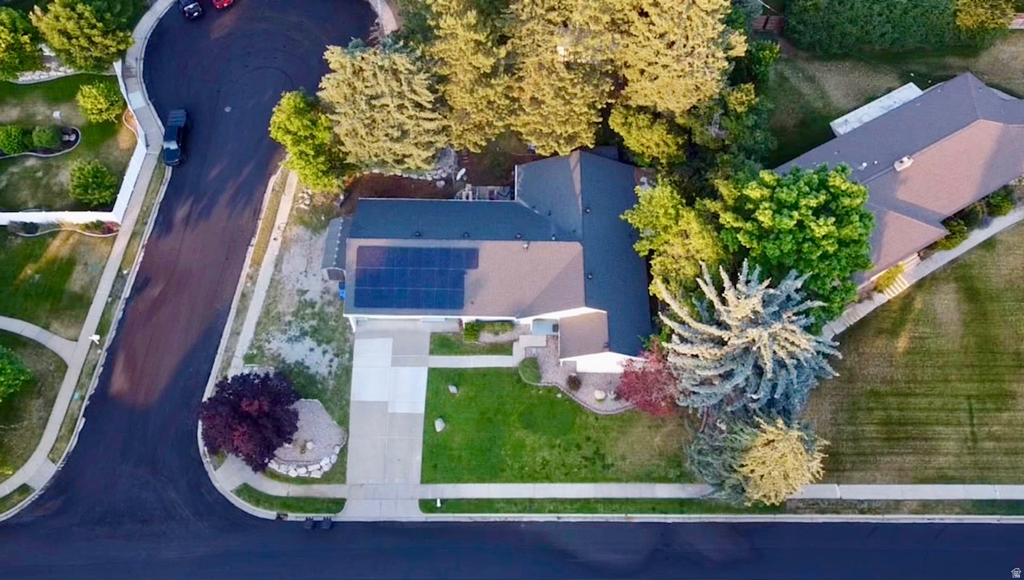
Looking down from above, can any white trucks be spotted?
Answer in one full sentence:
No, there appears to be no white truck in this shot.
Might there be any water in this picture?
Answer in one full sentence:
No, there is no water in the image.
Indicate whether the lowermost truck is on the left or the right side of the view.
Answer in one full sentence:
The lowermost truck is on the left side of the image.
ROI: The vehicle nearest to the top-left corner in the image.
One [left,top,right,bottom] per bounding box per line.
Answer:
[179,0,203,20]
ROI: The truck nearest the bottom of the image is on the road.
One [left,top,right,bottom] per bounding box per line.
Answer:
[161,112,193,165]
